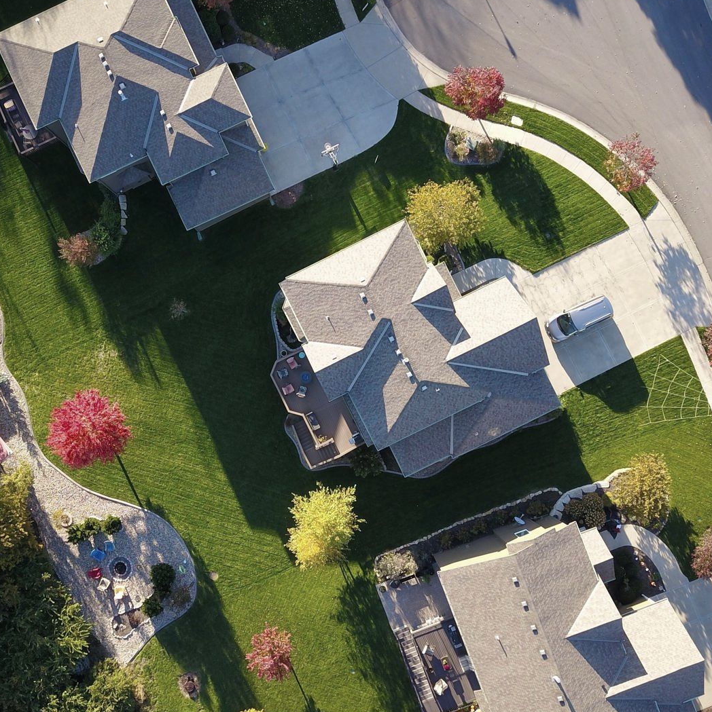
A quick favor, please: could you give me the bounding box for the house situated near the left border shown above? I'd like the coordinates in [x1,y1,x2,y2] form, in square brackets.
[0,0,274,237]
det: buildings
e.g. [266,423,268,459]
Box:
[276,218,562,479]
[431,512,705,712]
[0,0,274,237]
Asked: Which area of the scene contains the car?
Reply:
right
